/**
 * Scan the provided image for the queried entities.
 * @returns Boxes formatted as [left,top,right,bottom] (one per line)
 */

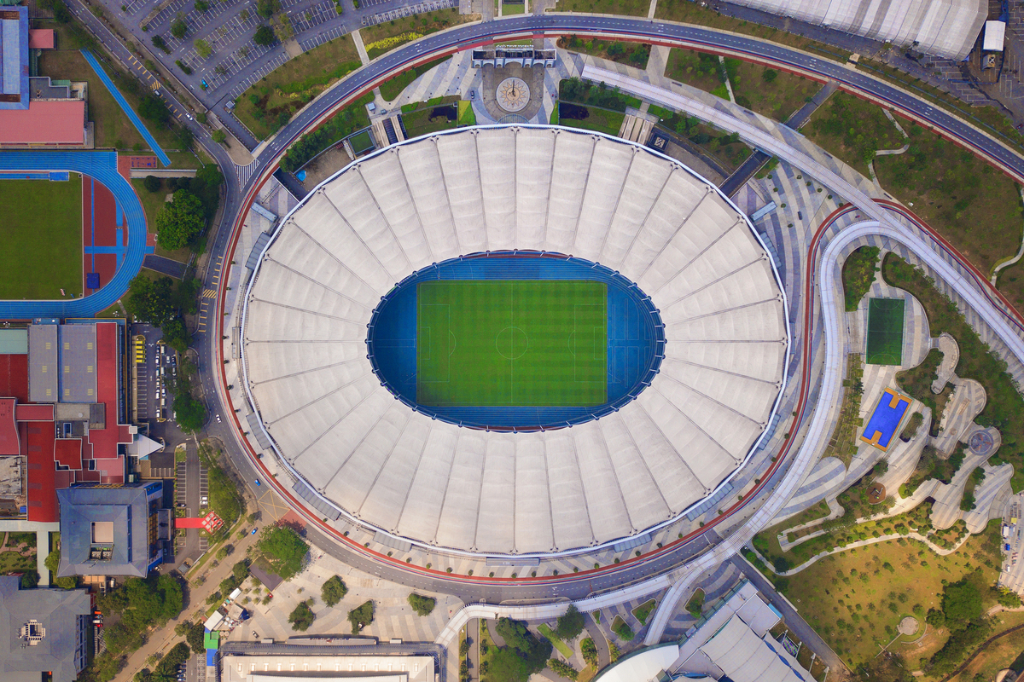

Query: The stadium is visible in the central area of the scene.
[241,123,790,558]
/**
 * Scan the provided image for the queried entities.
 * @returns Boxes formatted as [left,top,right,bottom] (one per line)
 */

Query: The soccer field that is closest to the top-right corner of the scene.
[867,294,910,367]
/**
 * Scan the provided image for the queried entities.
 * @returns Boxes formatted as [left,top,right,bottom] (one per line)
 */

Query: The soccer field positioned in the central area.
[417,280,608,407]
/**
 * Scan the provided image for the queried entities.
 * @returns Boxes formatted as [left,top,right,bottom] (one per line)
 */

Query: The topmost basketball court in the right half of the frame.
[862,386,916,454]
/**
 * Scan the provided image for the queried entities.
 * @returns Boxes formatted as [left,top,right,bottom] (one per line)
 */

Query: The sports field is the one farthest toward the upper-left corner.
[0,172,82,300]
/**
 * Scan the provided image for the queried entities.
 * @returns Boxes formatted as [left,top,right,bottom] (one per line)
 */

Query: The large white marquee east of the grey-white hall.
[980,20,1005,53]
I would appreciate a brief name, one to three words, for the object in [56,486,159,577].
building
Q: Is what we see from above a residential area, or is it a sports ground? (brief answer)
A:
sports ground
